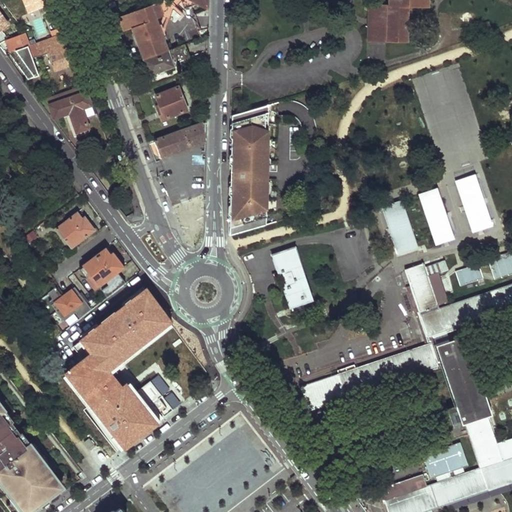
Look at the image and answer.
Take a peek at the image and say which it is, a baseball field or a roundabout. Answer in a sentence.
It is a roundabout that can be seen here.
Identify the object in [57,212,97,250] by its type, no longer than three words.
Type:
house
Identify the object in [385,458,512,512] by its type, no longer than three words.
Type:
building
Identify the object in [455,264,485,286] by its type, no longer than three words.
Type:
shed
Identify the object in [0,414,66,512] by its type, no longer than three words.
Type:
building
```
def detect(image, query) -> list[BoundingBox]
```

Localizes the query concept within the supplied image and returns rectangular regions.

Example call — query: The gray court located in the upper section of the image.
[414,64,486,166]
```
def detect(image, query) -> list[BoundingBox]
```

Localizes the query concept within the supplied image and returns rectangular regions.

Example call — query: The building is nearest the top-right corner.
[367,0,430,43]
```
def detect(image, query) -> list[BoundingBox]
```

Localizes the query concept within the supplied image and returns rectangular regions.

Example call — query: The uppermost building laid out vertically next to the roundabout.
[232,108,270,234]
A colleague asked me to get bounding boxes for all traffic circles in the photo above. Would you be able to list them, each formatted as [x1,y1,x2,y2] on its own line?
[170,256,242,328]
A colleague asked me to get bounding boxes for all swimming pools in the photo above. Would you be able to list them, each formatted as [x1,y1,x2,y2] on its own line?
[31,16,48,38]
